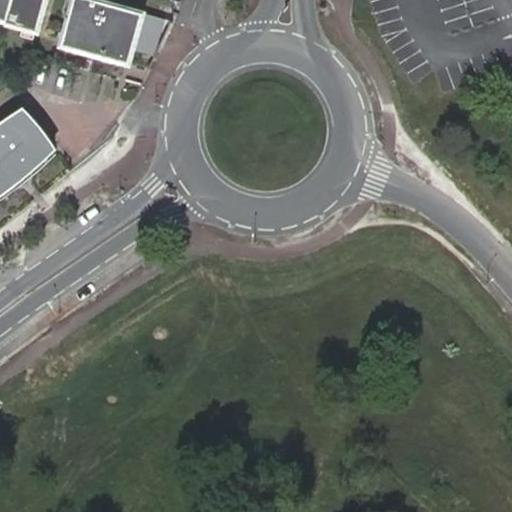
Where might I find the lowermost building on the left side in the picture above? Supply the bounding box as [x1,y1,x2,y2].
[0,106,56,200]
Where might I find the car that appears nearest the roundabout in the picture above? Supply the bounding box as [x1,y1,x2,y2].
[77,205,100,225]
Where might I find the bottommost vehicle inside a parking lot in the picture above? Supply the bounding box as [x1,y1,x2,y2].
[76,283,96,300]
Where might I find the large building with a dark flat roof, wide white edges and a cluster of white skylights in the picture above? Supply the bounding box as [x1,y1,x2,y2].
[58,0,146,65]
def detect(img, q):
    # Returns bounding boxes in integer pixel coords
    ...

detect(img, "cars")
[76,283,96,300]
[56,68,66,89]
[34,66,48,86]
[77,205,100,225]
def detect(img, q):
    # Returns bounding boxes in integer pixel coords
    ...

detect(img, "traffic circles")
[114,20,376,240]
